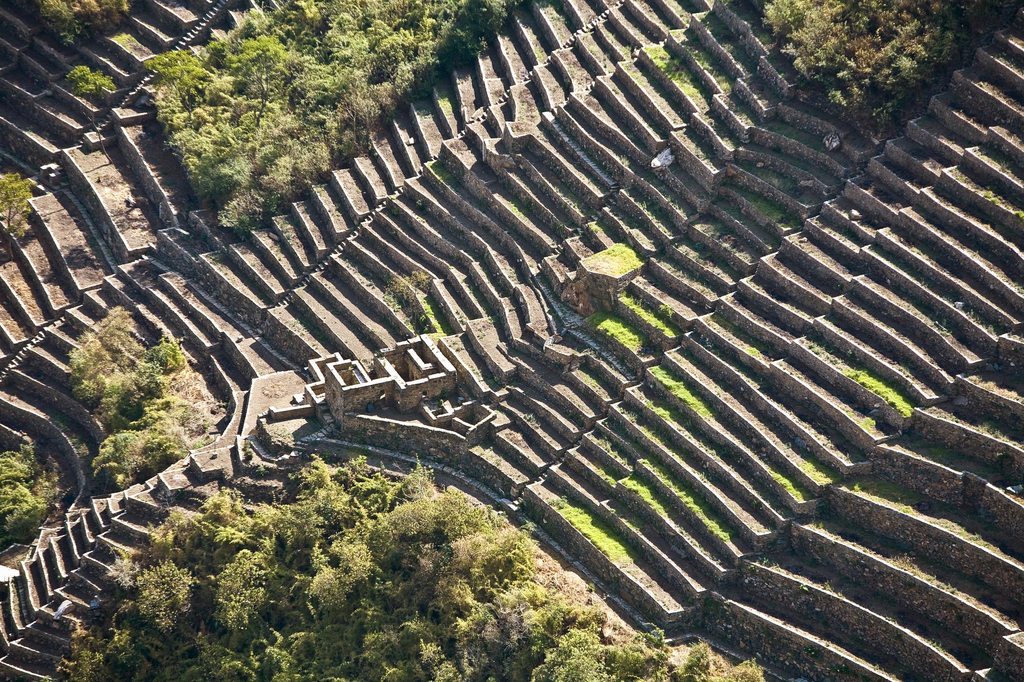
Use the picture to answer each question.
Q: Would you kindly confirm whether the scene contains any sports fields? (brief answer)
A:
No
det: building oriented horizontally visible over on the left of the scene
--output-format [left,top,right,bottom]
[304,338,456,427]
